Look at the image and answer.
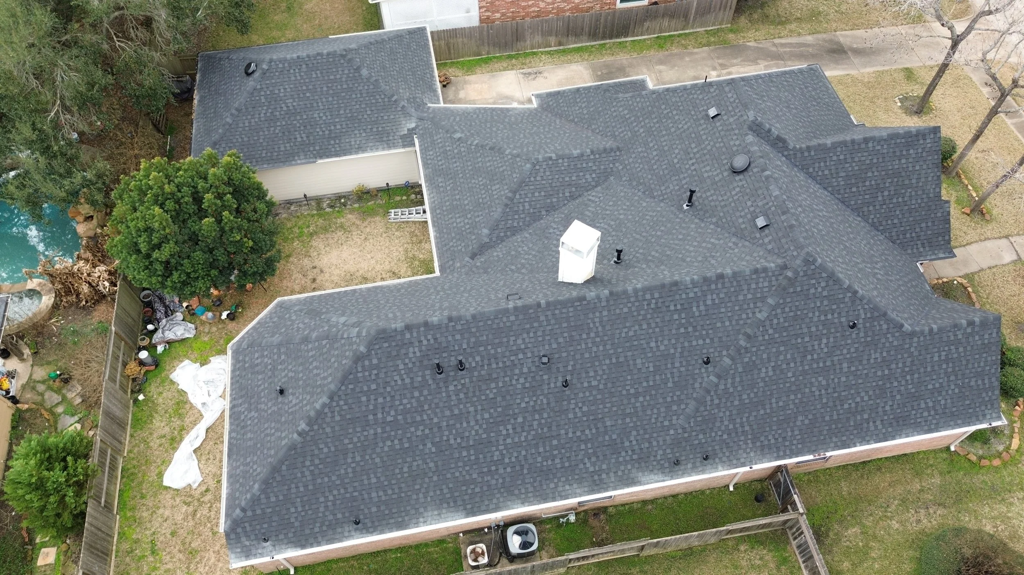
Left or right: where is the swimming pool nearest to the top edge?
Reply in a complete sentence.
The swimming pool nearest to the top edge is on the left side of the image.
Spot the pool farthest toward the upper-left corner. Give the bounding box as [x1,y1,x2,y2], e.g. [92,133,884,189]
[0,165,80,280]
